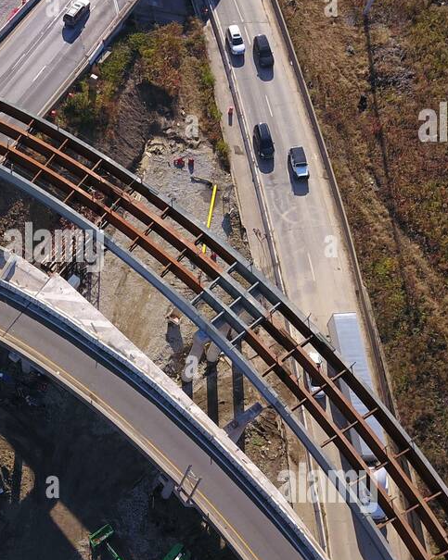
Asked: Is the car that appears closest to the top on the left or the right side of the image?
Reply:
left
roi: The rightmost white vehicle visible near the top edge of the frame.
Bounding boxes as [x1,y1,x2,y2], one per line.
[227,24,247,52]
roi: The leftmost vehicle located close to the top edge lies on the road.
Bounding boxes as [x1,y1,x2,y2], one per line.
[62,0,92,24]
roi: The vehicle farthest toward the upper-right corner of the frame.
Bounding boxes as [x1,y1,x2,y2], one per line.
[254,32,275,65]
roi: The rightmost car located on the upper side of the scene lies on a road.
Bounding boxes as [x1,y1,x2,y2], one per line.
[288,145,308,176]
